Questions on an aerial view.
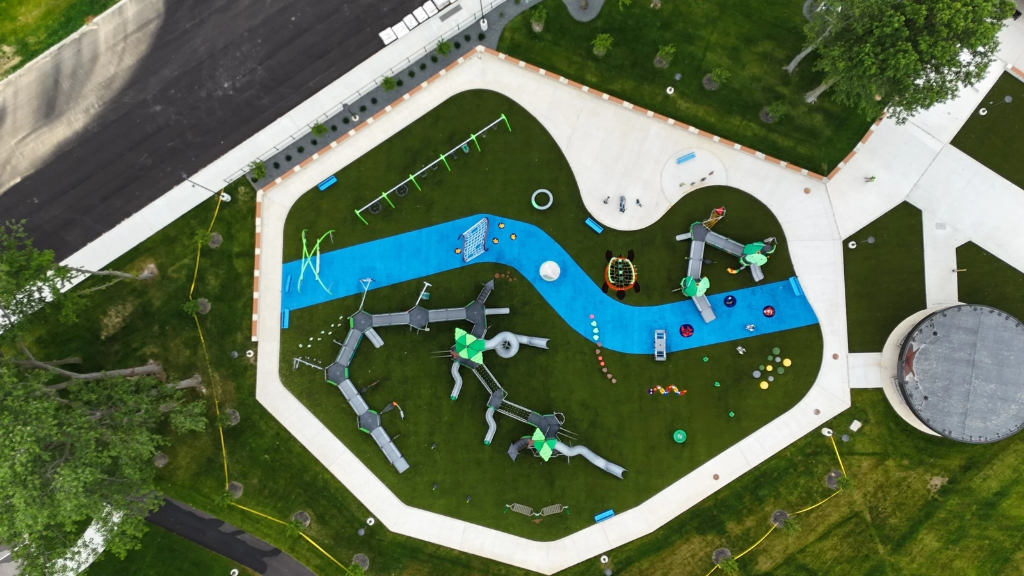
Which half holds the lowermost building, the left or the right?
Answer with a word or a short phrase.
right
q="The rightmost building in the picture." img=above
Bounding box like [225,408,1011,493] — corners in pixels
[897,302,1024,443]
